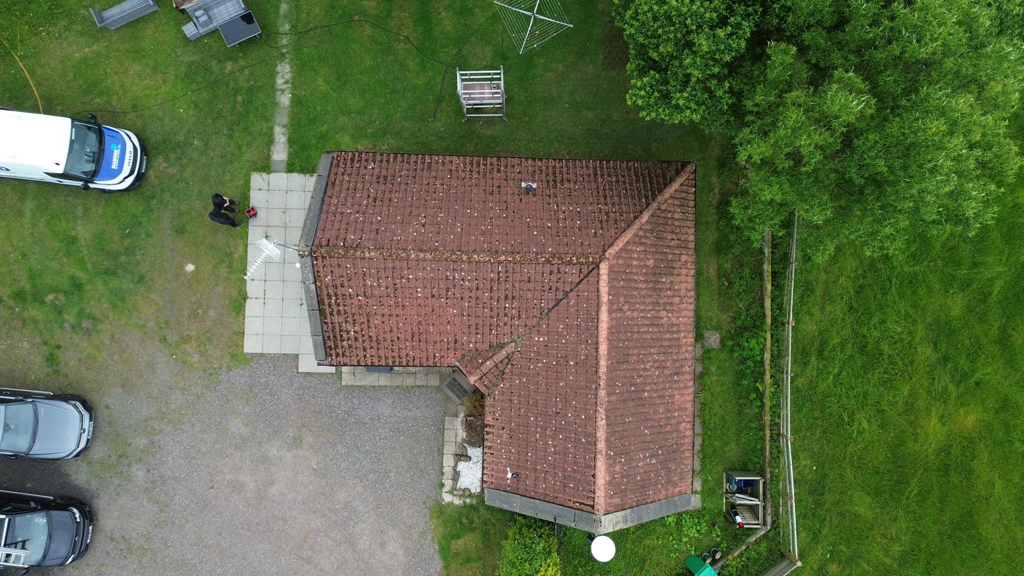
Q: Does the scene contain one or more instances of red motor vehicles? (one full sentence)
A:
No, I find no red motor vehicle anywhere in the image.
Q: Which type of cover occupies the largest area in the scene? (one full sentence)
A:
The bulk of the photo consists of grass.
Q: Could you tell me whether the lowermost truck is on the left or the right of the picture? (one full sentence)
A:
The lowermost truck appears in the left half of the scene.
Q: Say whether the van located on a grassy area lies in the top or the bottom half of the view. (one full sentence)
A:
It is in the top half that the van located on a grassy area appears.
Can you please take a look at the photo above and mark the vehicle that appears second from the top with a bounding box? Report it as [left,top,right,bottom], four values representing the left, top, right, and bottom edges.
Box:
[0,385,95,467]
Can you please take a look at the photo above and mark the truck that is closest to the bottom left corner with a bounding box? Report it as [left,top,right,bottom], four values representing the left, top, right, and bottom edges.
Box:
[0,488,95,576]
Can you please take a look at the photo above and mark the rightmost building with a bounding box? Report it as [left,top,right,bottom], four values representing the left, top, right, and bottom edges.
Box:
[723,469,764,526]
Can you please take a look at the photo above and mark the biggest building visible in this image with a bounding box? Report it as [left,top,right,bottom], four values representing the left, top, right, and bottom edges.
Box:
[298,152,697,533]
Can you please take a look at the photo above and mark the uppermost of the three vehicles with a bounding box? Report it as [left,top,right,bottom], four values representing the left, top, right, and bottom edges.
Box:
[0,106,147,194]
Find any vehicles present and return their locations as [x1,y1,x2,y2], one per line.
[0,488,95,576]
[0,106,147,194]
[0,385,95,467]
